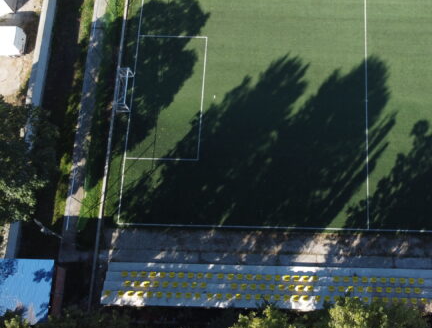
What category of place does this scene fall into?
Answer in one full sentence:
The picture captures a sports ground.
